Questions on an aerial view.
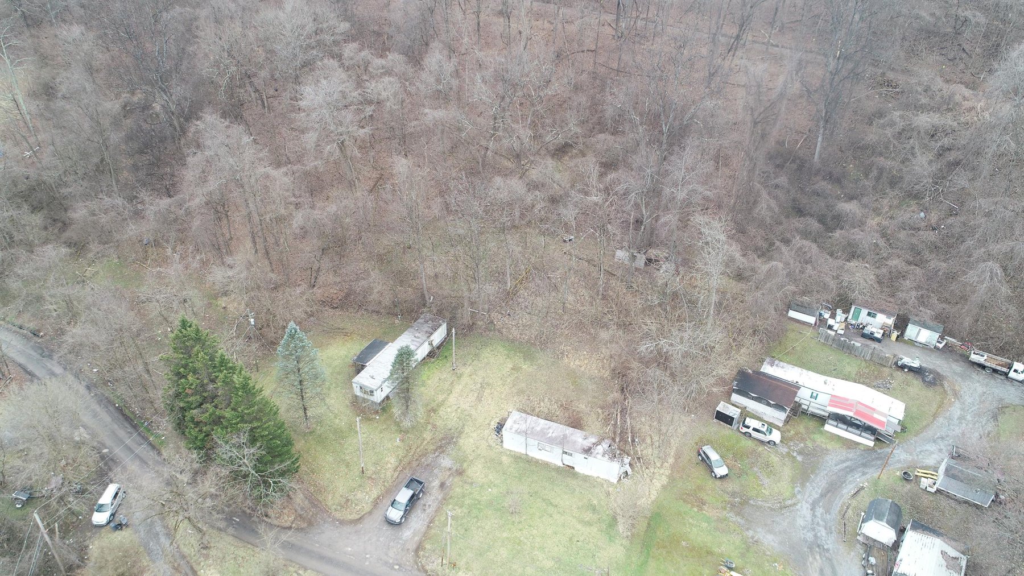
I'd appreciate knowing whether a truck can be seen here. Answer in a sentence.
Yes, the photo shows a truck.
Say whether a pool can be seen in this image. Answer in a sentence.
No, there's no pool here.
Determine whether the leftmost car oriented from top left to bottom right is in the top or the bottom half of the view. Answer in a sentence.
It is in the bottom half that the leftmost car oriented from top left to bottom right appears.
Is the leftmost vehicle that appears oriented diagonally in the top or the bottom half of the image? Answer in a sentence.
Seen from above, the leftmost vehicle that appears oriented diagonally lies in the bottom half of the view.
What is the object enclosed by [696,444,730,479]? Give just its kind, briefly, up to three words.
car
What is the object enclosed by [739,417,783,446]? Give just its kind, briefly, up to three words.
car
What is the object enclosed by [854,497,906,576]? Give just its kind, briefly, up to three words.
shed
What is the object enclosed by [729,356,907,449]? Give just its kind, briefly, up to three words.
house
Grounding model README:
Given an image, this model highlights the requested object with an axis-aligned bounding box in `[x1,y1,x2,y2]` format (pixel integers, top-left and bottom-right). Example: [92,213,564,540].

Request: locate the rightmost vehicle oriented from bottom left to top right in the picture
[384,476,427,526]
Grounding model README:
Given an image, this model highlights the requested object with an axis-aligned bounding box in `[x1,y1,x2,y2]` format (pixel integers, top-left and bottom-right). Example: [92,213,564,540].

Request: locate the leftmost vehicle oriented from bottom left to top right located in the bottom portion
[90,483,128,526]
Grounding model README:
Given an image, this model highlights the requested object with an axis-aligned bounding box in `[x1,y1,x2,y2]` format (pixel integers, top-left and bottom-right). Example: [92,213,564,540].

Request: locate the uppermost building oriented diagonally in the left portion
[350,313,448,409]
